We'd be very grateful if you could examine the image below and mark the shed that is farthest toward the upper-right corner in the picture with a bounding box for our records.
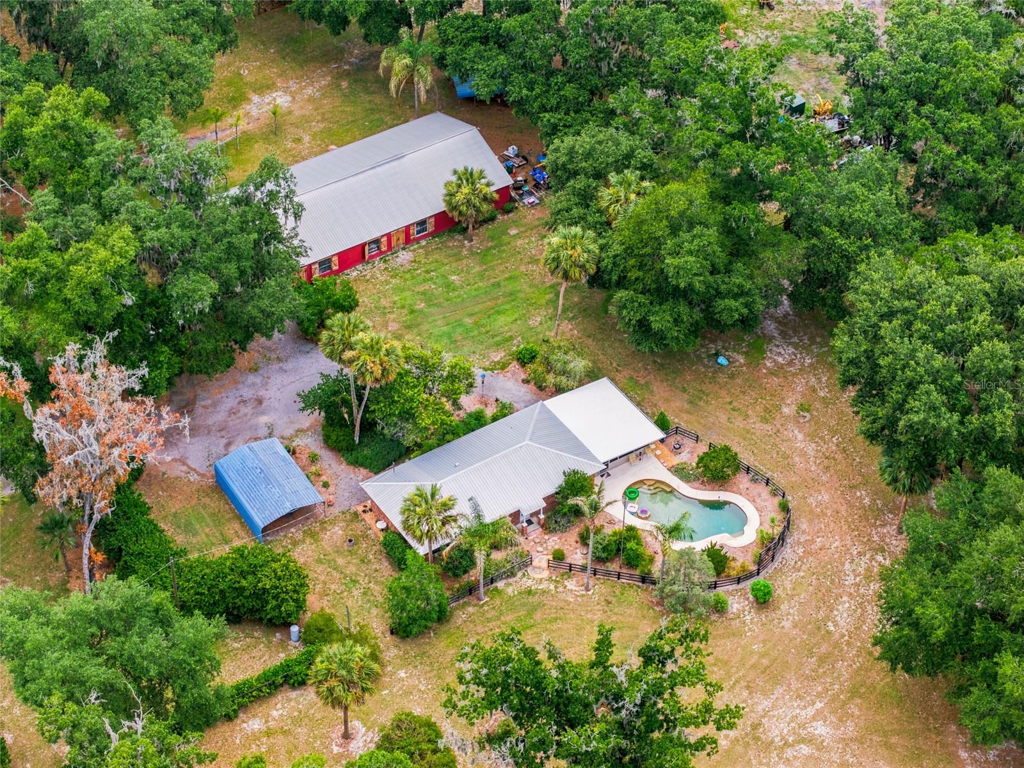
[785,90,811,122]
